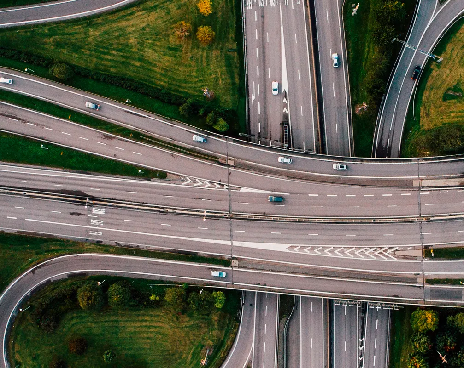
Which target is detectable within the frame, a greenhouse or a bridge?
bridge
